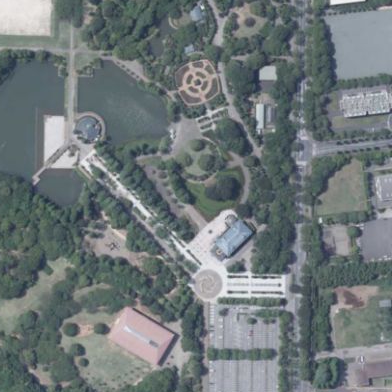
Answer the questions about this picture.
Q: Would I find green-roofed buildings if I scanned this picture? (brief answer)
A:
No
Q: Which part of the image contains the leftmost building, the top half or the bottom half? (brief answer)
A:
bottom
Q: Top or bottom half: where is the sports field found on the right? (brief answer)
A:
top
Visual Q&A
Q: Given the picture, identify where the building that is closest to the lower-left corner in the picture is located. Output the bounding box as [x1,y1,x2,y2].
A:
[108,306,179,368]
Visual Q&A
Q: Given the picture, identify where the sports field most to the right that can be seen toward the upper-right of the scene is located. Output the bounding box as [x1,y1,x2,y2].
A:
[328,11,392,80]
